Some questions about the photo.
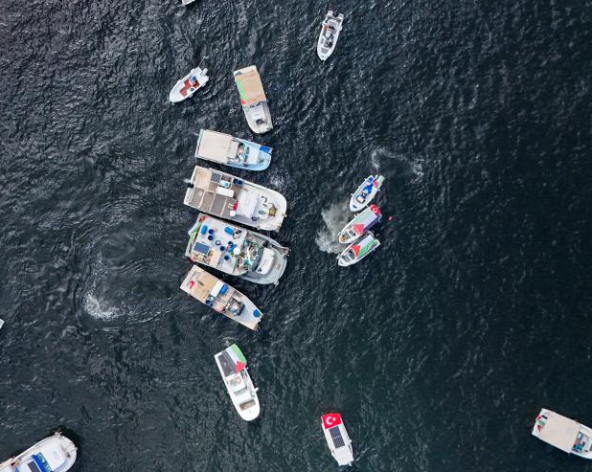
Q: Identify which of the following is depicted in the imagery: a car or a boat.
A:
boat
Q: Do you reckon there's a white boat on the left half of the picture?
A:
Yes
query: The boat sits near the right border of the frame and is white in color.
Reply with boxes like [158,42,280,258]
[531,409,592,455]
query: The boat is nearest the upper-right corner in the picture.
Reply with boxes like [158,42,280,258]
[319,11,344,60]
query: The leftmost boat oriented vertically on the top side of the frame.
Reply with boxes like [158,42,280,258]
[232,65,271,134]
